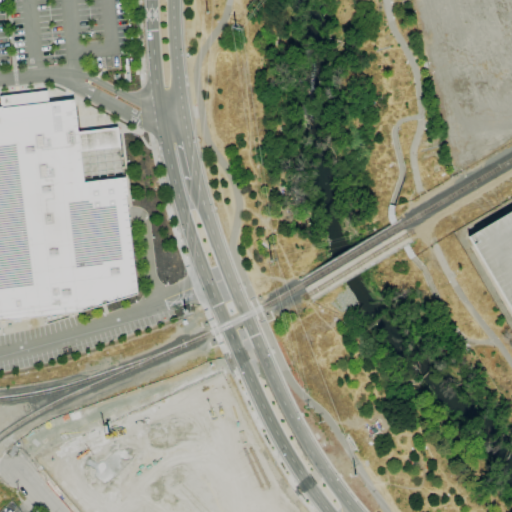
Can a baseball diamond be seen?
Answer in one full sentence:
No, this view has no baseball diamond in it.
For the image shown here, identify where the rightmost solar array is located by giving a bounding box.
[70,202,123,265]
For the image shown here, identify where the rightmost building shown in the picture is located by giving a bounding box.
[469,211,512,311]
